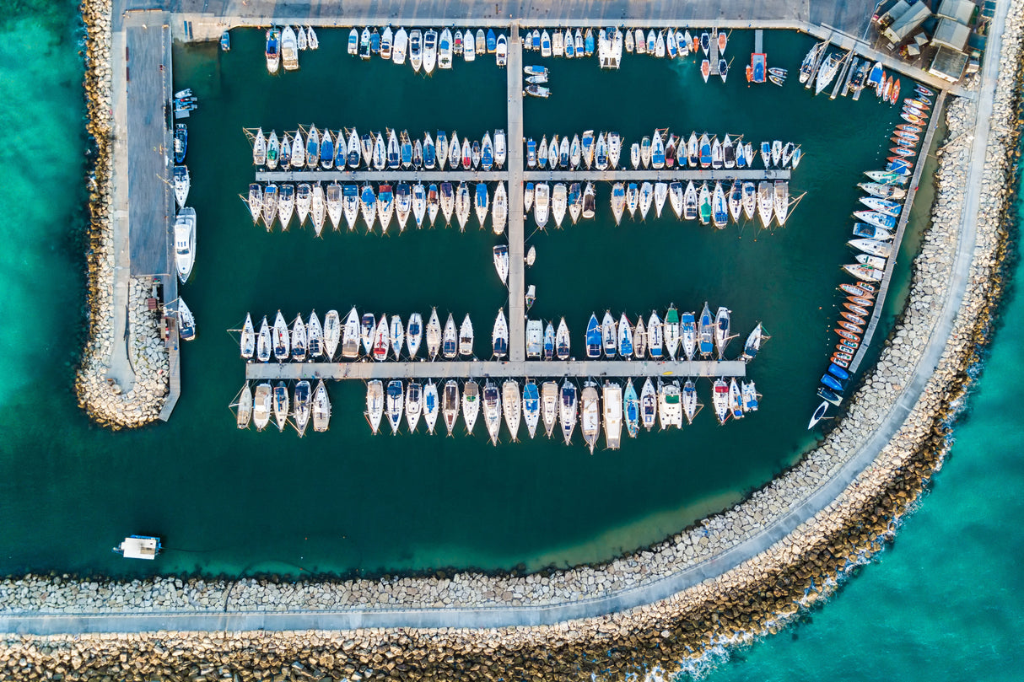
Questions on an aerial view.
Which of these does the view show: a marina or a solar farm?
marina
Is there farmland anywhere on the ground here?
No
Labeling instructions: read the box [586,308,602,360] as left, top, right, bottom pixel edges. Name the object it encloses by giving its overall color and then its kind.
blue boat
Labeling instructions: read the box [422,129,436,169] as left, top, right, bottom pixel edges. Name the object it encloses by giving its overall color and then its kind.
blue boat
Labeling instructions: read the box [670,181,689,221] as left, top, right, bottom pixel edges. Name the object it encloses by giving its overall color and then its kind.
white boat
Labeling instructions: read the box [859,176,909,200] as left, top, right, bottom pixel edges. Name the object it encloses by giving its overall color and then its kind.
white boat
